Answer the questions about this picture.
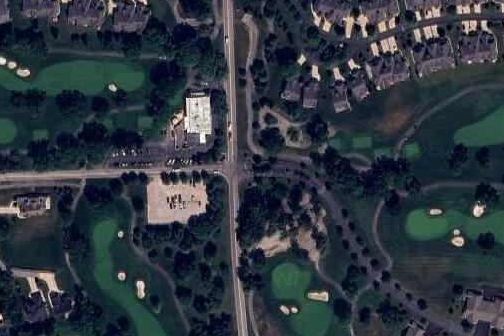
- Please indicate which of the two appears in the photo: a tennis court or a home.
home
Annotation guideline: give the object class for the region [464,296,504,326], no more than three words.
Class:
house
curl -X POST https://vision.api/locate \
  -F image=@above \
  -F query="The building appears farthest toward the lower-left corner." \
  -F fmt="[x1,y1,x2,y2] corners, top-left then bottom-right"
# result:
[23,294,49,320]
